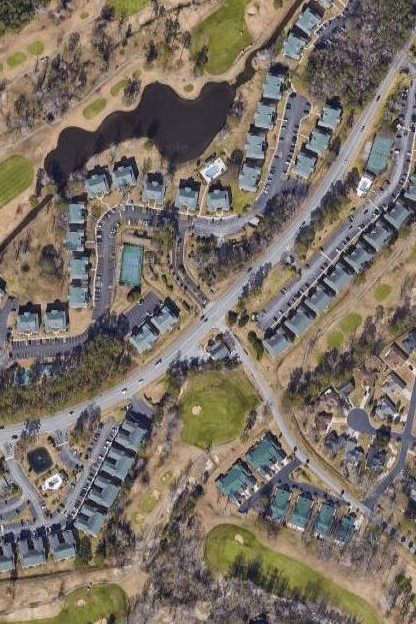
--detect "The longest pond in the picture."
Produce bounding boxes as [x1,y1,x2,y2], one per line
[44,81,236,197]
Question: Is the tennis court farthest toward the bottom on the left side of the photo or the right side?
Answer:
left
